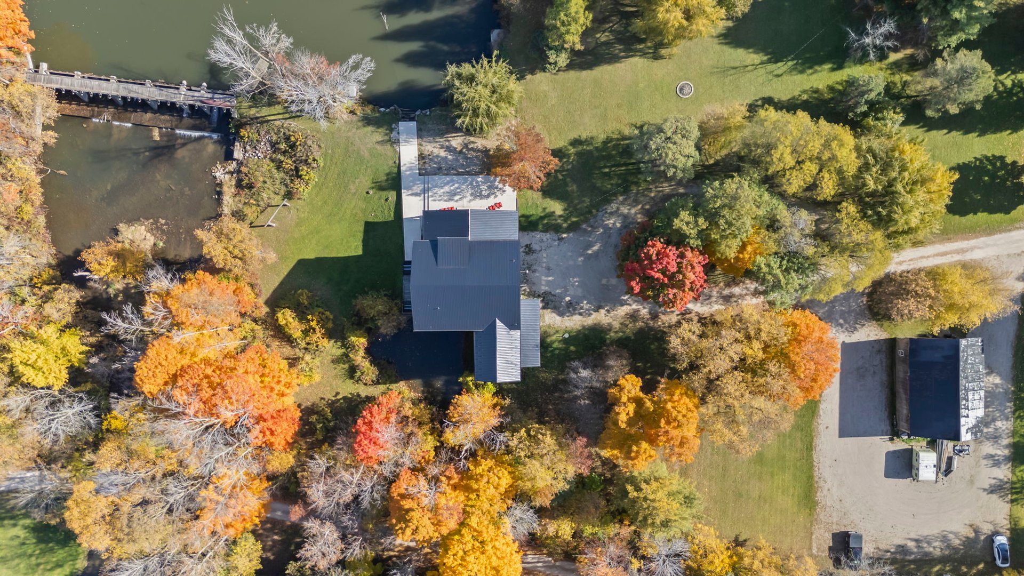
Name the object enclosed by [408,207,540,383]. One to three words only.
house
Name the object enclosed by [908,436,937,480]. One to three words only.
vehicle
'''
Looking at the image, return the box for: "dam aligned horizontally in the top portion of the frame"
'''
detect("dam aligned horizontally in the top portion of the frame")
[24,65,243,158]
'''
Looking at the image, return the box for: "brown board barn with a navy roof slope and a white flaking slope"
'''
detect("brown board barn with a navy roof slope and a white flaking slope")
[896,336,984,442]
